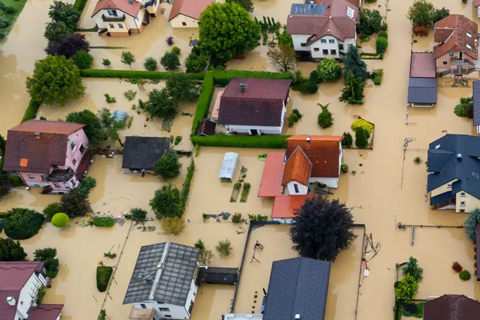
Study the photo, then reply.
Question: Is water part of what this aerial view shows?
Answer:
Yes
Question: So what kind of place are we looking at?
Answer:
residential area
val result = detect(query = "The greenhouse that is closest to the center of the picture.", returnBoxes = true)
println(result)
[219,147,238,181]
